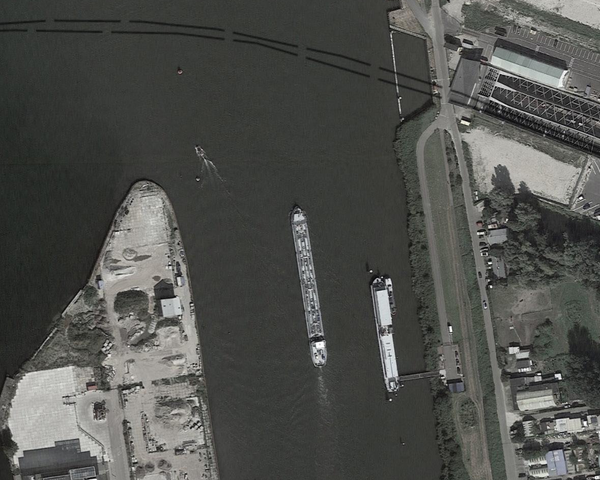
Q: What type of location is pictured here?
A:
port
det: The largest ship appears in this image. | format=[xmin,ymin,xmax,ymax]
[291,207,326,368]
